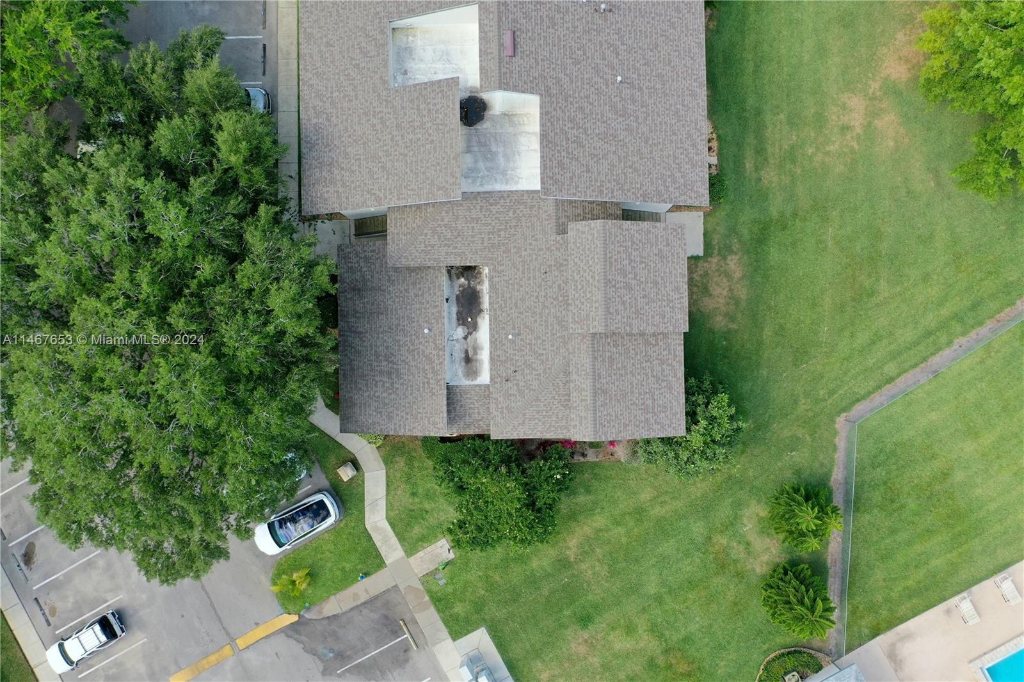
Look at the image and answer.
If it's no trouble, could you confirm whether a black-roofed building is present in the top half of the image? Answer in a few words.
No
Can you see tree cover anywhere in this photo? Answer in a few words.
Yes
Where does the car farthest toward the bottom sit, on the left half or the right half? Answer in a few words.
left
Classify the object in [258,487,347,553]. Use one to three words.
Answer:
car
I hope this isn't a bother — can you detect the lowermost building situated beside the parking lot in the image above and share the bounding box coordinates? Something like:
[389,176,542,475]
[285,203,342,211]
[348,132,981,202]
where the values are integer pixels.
[340,191,688,442]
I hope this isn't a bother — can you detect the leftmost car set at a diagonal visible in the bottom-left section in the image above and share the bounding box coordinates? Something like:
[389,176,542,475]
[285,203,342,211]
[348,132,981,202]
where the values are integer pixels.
[48,606,132,671]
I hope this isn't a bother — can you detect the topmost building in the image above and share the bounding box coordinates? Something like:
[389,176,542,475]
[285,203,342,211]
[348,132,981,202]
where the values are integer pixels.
[300,0,710,219]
